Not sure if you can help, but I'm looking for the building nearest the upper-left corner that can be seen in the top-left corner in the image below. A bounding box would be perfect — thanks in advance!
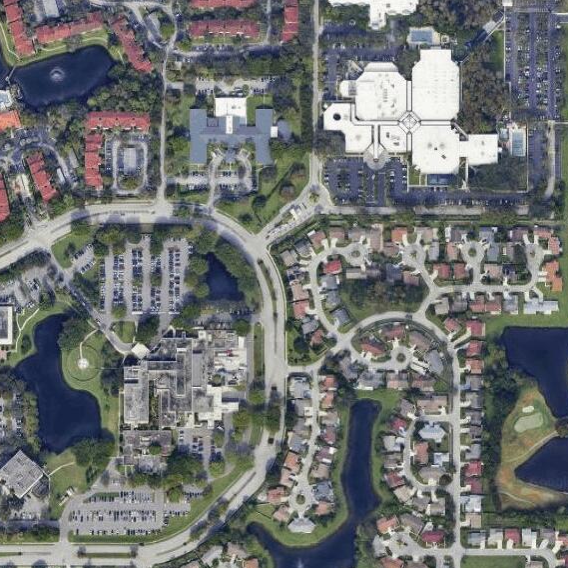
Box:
[3,0,32,56]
